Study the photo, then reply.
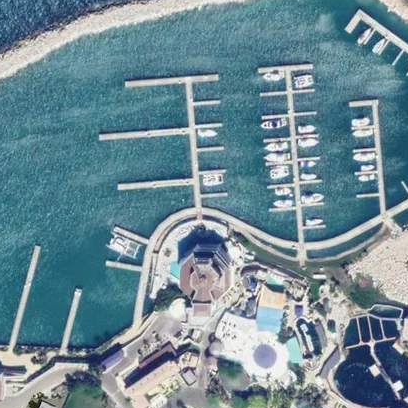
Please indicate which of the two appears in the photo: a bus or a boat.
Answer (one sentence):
Visible in the photo is a boat.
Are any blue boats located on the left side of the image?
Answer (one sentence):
No, on the left side of the image there is no blue boat.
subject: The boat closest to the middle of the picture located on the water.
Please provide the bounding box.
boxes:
[203,174,224,186]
